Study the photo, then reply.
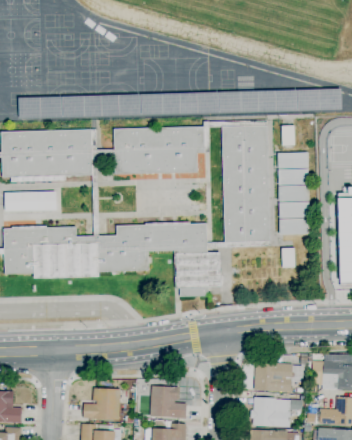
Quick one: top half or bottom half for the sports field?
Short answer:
top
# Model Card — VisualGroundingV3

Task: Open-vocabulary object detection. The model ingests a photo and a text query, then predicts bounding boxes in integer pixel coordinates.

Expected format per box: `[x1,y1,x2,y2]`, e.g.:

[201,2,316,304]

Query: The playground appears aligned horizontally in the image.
[0,0,352,120]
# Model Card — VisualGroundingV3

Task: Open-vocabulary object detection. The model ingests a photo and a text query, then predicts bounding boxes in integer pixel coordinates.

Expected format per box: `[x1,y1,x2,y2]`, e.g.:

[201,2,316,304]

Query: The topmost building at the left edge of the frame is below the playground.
[1,128,94,176]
